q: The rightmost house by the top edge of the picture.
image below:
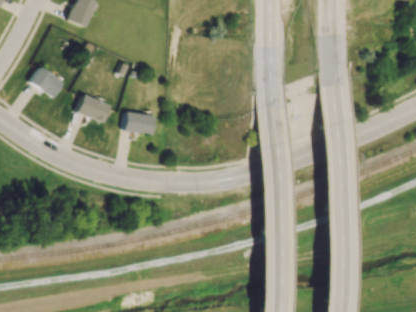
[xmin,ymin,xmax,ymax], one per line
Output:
[68,0,98,28]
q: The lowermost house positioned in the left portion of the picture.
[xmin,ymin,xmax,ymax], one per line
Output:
[123,111,157,135]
